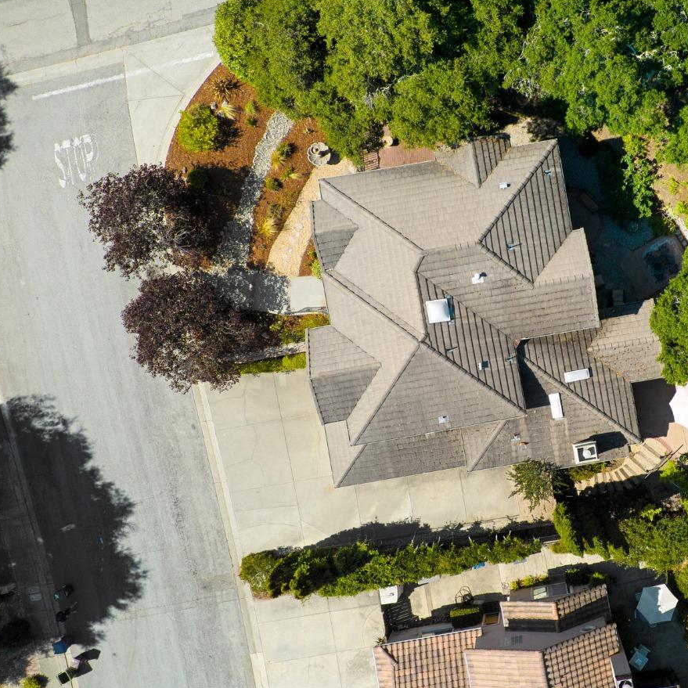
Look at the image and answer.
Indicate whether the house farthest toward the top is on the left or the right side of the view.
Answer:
right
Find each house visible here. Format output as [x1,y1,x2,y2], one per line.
[305,133,667,490]
[372,568,678,688]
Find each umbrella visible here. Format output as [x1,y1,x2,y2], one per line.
[668,390,688,428]
[635,581,675,623]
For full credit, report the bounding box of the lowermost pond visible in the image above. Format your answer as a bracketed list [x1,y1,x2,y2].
[630,240,684,291]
